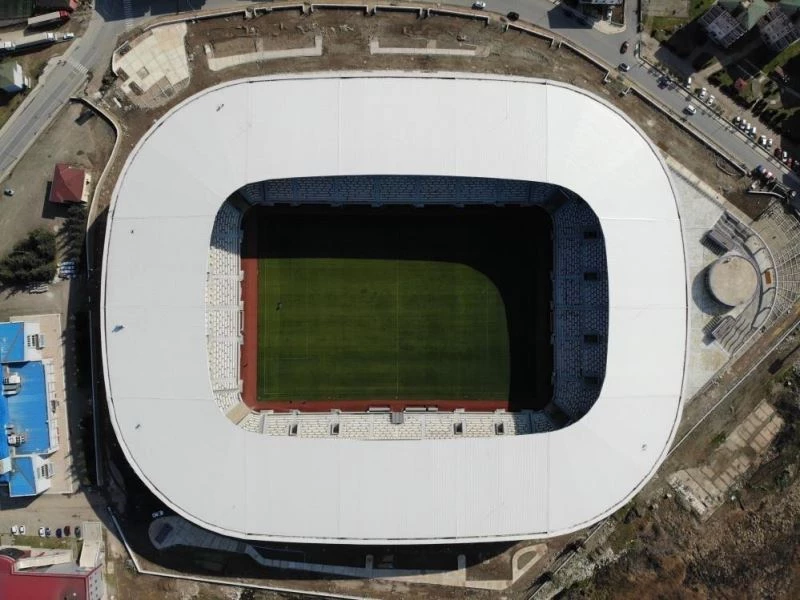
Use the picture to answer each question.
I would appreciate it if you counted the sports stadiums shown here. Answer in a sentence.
I count just 1 sports stadium.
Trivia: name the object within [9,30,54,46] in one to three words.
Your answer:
vehicle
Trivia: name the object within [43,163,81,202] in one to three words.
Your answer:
house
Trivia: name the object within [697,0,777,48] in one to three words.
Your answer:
building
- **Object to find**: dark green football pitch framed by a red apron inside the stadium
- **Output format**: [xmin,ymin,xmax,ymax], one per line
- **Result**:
[241,205,552,412]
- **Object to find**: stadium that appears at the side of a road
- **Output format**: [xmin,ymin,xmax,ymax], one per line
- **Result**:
[100,70,688,545]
